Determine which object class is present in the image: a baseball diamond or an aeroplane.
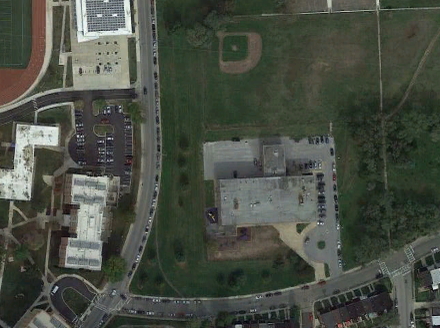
baseball diamond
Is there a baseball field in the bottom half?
No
